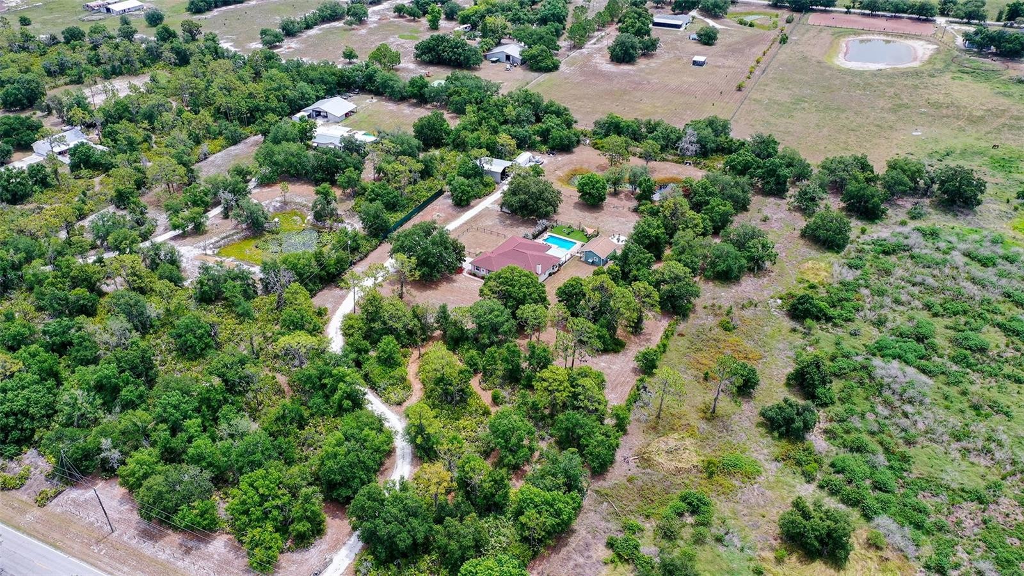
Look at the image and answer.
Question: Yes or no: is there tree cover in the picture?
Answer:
Yes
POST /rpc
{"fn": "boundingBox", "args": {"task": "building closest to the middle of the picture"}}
[469,235,560,282]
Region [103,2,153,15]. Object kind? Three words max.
barn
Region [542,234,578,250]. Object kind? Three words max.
swimming pool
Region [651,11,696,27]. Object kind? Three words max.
house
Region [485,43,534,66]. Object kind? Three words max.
building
